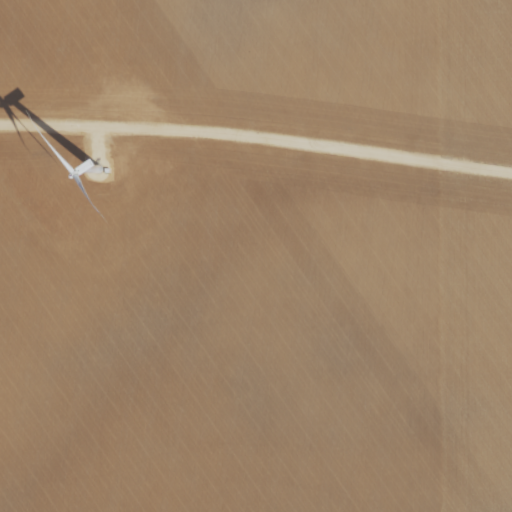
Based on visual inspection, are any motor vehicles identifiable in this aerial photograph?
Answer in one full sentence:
No, the frame has no motor vehicle in it.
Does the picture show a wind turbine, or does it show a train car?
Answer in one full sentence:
I can see a wind turbine in this picture.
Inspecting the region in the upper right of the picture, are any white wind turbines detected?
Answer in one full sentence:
No, in the upper right of the picture there is no white wind turbine.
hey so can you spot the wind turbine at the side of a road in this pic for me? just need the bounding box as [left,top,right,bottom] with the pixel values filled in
[33,118,106,229]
